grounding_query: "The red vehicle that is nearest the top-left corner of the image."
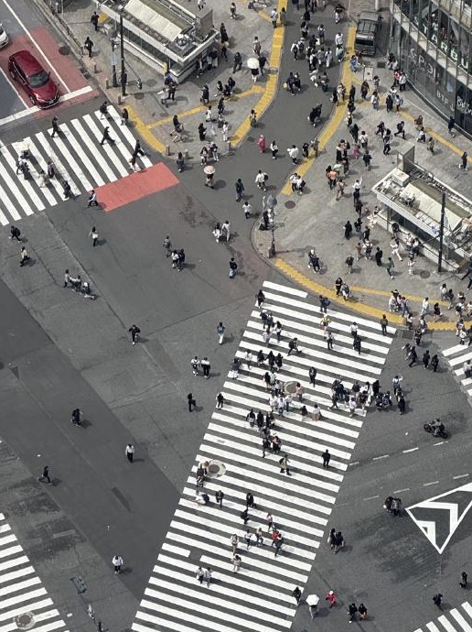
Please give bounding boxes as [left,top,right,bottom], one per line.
[7,49,57,107]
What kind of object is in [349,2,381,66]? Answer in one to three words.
van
